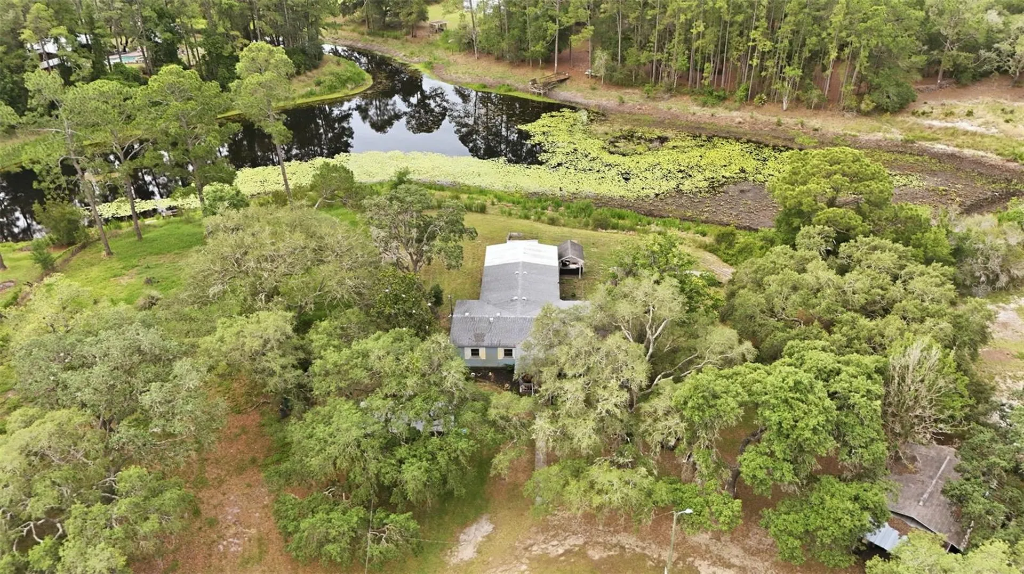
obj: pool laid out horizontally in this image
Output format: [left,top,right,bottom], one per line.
[105,49,150,67]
